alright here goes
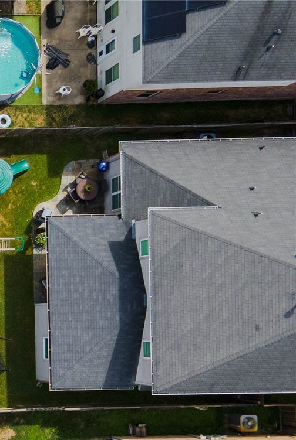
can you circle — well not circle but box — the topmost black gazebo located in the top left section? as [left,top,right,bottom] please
[45,45,69,68]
